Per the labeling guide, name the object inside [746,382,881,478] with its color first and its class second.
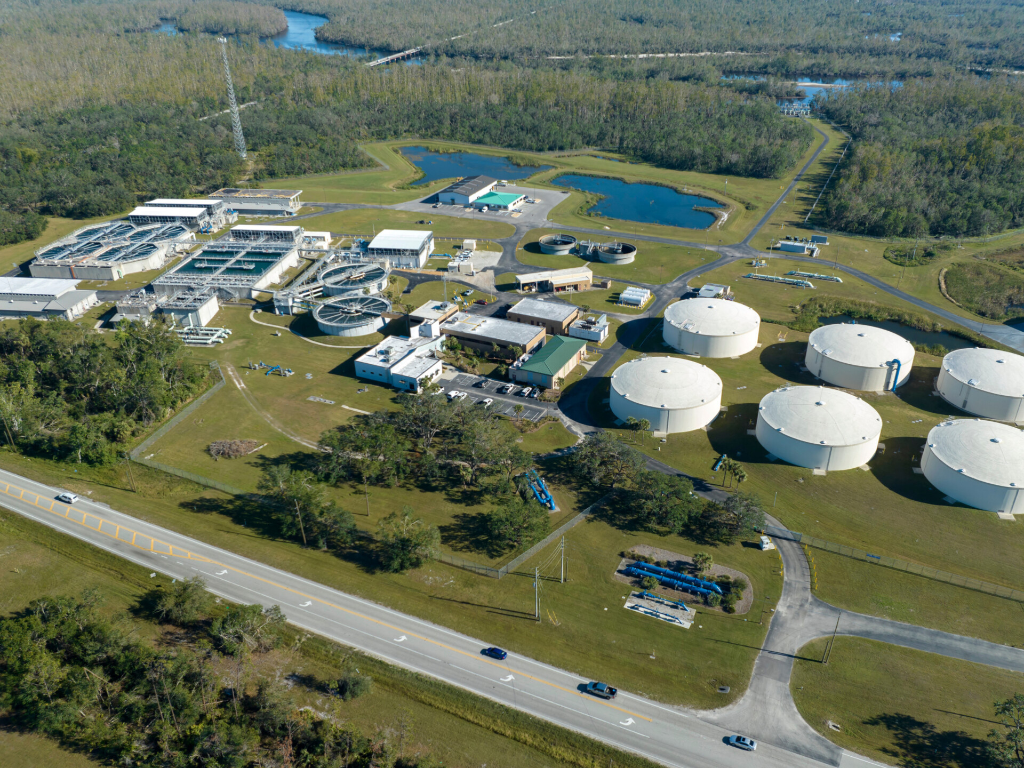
white storage tank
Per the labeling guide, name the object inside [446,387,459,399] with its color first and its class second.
white vehicle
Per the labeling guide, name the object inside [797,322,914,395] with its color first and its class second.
white storage tank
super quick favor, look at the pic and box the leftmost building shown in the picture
[0,275,104,324]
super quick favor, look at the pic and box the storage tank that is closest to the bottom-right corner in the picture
[906,419,1024,522]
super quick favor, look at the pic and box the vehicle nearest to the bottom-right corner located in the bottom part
[728,733,757,752]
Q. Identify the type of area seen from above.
industrial area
